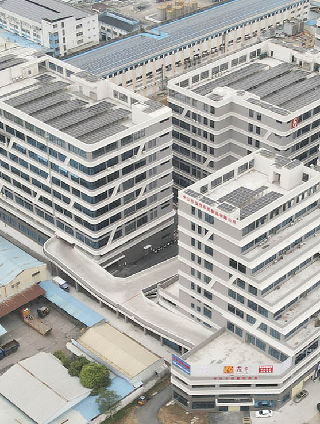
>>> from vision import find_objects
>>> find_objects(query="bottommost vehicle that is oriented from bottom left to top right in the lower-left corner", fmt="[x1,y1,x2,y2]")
[0,334,19,363]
